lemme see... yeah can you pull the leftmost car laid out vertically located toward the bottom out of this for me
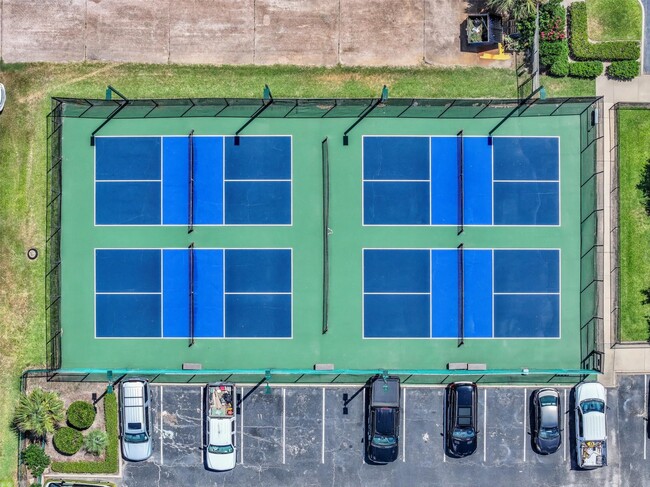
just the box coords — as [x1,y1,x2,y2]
[117,379,154,461]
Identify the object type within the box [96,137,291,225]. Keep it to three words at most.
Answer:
sports court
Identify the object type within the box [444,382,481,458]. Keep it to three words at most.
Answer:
car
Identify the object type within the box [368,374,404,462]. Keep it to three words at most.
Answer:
truck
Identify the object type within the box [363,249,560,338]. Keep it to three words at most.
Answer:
sports court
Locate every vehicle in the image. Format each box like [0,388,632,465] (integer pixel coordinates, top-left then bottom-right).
[202,382,240,470]
[444,382,481,458]
[368,374,404,462]
[0,84,6,110]
[574,382,612,470]
[117,379,154,461]
[533,388,566,456]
